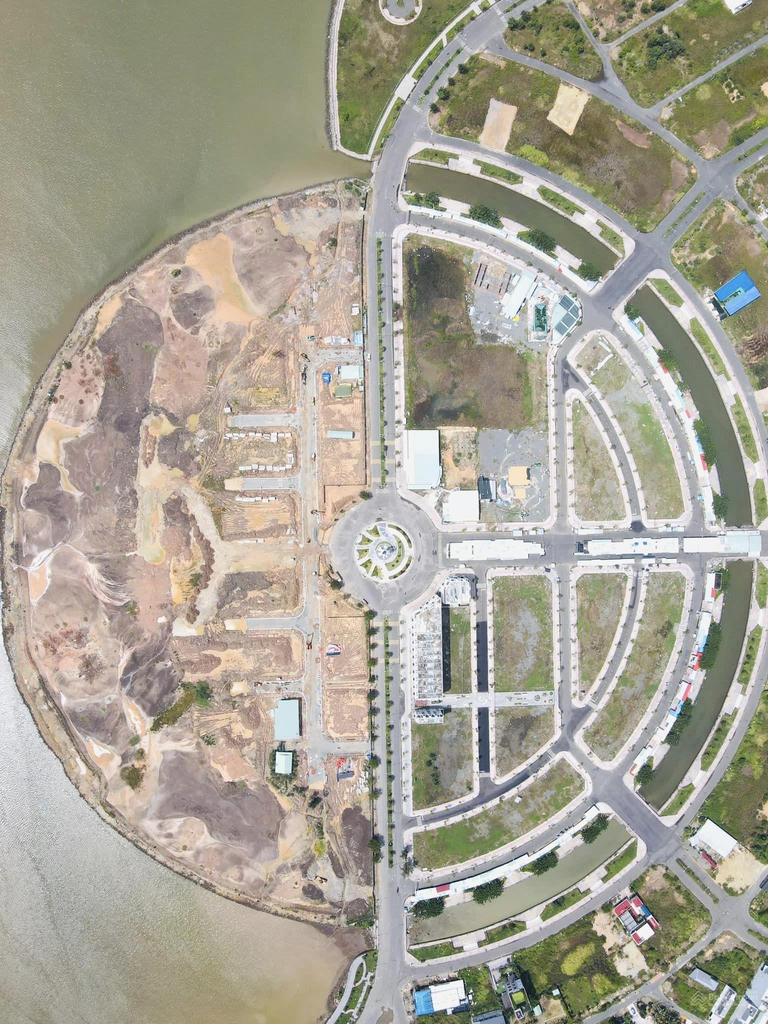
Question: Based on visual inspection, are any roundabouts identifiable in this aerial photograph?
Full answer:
Yes, the frame does contain a roundabout.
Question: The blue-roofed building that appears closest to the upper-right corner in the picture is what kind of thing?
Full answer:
The blue-roofed building that appears closest to the upper-right corner in the image is a house.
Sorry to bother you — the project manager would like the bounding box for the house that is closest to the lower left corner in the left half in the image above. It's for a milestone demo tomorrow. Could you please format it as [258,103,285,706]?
[276,749,293,774]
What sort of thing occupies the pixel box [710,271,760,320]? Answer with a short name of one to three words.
house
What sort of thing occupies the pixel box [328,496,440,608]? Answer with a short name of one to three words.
roundabout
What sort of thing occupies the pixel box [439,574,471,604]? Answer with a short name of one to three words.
house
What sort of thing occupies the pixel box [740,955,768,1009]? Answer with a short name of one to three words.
building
